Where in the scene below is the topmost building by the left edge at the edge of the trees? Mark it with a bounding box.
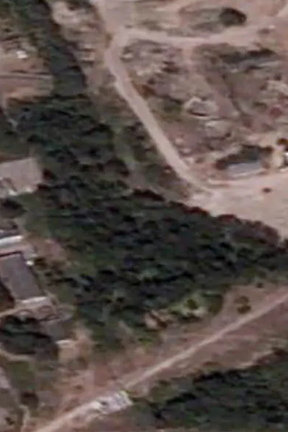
[0,157,41,199]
